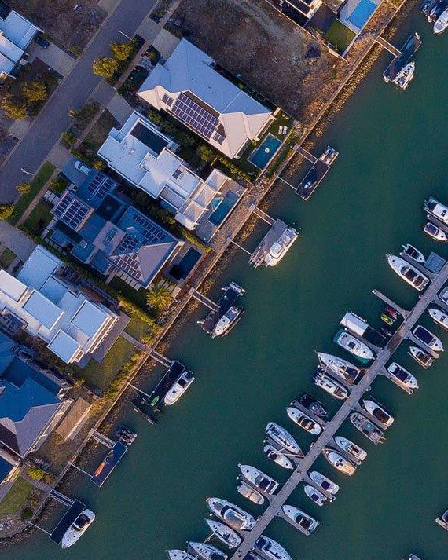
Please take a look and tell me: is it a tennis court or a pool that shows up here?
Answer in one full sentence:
It is a pool that can be seen here.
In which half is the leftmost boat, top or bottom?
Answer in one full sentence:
The leftmost boat sits in the bottom half of the picture.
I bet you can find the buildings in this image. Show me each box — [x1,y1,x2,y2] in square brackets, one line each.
[137,38,283,162]
[275,0,350,23]
[0,10,46,87]
[52,169,187,292]
[98,110,235,231]
[0,332,94,459]
[0,245,133,365]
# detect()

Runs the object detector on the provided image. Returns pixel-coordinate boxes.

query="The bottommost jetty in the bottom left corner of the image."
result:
[28,485,86,544]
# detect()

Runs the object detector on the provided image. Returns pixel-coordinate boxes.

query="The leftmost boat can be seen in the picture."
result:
[63,505,99,549]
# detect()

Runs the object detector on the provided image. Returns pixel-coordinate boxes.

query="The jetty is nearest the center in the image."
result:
[186,284,244,331]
